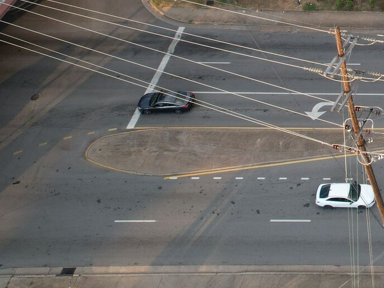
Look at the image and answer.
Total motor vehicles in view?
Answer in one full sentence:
The number of motor vehicles here is 2.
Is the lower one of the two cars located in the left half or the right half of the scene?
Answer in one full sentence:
You can find the lower one of the two cars on the right side of the picture.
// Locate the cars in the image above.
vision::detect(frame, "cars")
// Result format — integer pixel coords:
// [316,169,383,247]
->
[312,184,375,213]
[135,89,194,114]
